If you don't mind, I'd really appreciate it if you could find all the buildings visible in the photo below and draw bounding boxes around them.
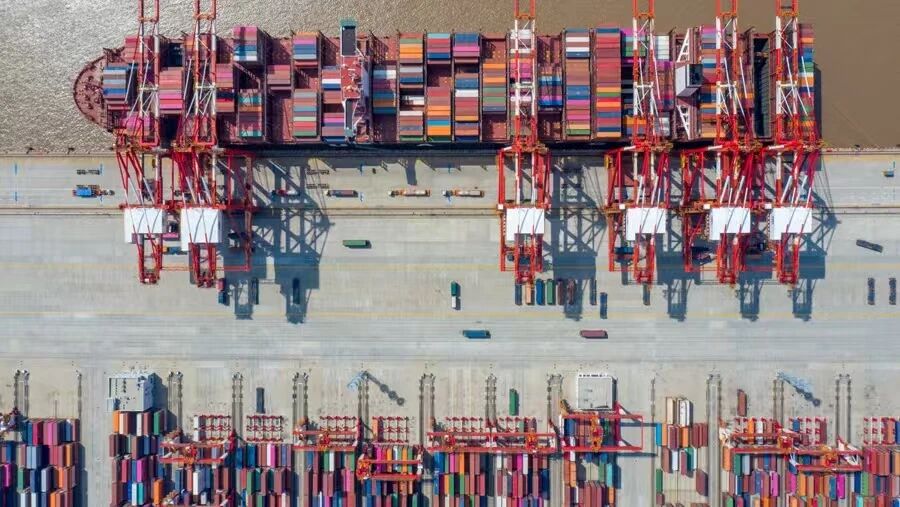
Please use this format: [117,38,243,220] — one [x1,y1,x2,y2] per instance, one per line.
[108,370,158,411]
[575,373,613,409]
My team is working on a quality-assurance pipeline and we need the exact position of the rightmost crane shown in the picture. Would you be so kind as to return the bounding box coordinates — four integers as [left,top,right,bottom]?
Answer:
[780,434,862,470]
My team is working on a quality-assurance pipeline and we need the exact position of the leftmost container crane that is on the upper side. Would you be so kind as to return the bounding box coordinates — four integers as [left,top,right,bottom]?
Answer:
[111,0,203,286]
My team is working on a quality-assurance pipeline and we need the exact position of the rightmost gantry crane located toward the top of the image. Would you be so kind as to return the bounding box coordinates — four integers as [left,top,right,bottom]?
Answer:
[724,0,830,286]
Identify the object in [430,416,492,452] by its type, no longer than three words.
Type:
crane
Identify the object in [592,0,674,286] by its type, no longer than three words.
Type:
container crane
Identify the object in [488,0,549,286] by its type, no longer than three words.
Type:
container crane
